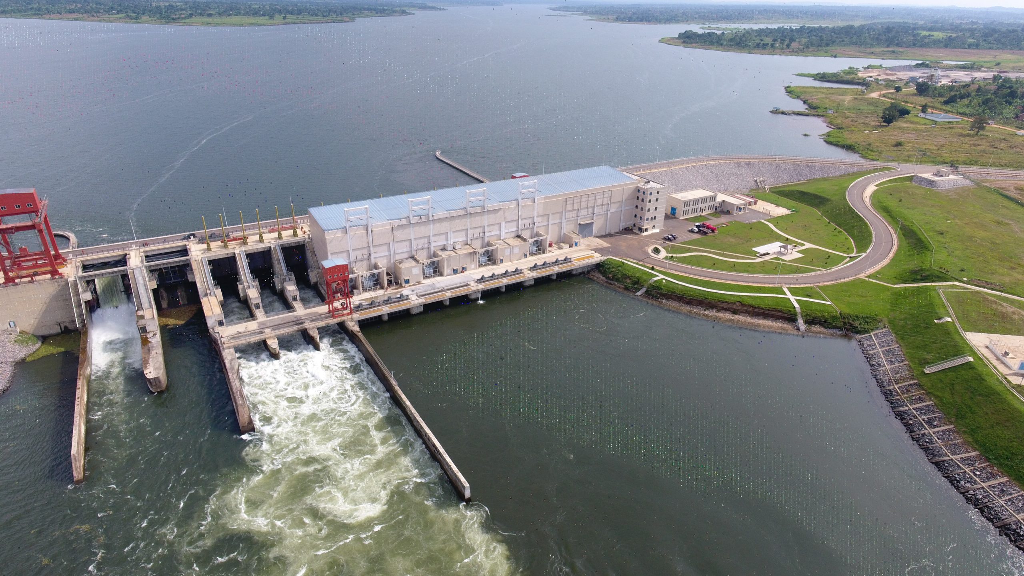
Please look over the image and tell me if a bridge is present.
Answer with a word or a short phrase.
Yes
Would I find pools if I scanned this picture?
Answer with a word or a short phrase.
No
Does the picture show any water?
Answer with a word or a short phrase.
Yes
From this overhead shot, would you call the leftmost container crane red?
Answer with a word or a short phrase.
Yes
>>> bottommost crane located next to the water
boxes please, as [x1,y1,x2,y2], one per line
[319,257,354,319]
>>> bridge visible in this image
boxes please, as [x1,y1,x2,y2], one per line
[210,298,352,351]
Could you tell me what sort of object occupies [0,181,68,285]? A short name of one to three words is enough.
container crane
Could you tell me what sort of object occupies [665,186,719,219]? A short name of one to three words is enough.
building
